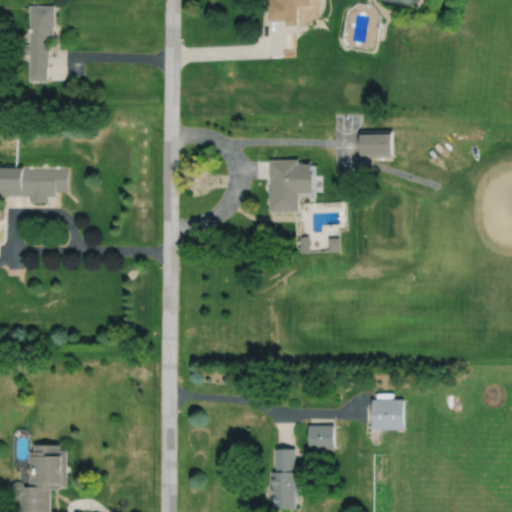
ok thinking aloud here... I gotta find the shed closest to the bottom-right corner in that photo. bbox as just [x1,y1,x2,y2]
[370,400,405,431]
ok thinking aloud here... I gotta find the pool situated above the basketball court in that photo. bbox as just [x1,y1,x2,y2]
[345,3,380,51]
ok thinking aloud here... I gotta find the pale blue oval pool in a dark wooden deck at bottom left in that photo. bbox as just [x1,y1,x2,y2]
[14,429,32,484]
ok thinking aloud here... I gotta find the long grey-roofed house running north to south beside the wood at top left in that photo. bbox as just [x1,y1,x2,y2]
[25,6,56,82]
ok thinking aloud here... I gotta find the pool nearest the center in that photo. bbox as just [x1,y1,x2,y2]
[302,202,348,252]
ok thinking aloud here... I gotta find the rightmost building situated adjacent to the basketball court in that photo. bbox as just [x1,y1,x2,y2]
[355,130,394,160]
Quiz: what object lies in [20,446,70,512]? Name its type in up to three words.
house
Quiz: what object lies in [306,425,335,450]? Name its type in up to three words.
building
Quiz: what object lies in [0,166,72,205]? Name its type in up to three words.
house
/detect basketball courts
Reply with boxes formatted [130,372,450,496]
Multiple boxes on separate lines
[336,114,363,137]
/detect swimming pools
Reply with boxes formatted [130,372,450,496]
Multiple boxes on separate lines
[302,202,348,252]
[14,429,32,484]
[345,3,380,51]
